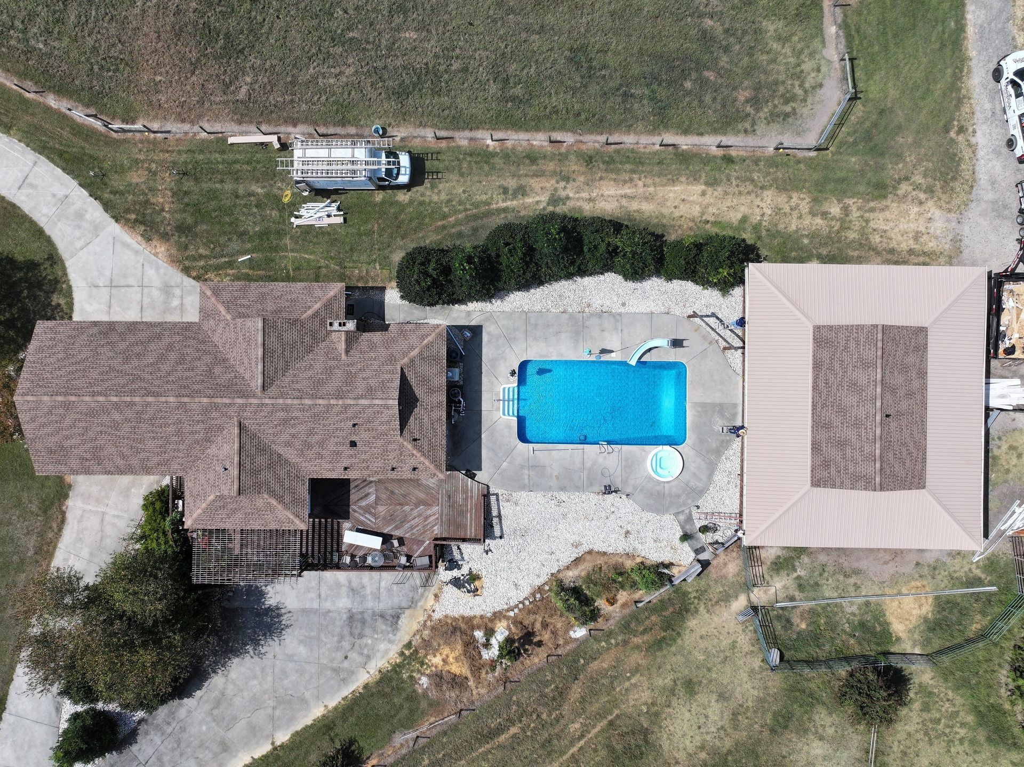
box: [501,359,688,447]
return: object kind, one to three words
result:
swimming pool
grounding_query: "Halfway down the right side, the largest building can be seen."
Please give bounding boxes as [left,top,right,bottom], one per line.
[737,260,990,553]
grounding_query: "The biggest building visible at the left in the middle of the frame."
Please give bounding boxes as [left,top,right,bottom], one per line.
[11,282,448,528]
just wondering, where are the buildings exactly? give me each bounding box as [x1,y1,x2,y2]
[737,260,990,553]
[11,282,448,528]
